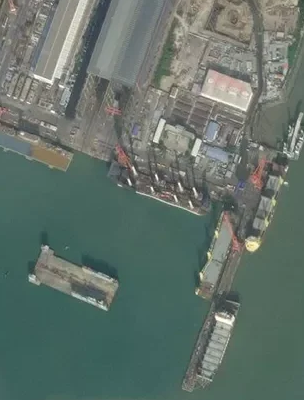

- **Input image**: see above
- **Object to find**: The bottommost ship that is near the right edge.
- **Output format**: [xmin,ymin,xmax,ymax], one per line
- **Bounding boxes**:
[250,157,293,250]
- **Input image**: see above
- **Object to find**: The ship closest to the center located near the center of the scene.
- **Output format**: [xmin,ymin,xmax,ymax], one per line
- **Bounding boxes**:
[115,163,211,216]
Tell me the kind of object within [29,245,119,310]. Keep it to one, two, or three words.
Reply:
ship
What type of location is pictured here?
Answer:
port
